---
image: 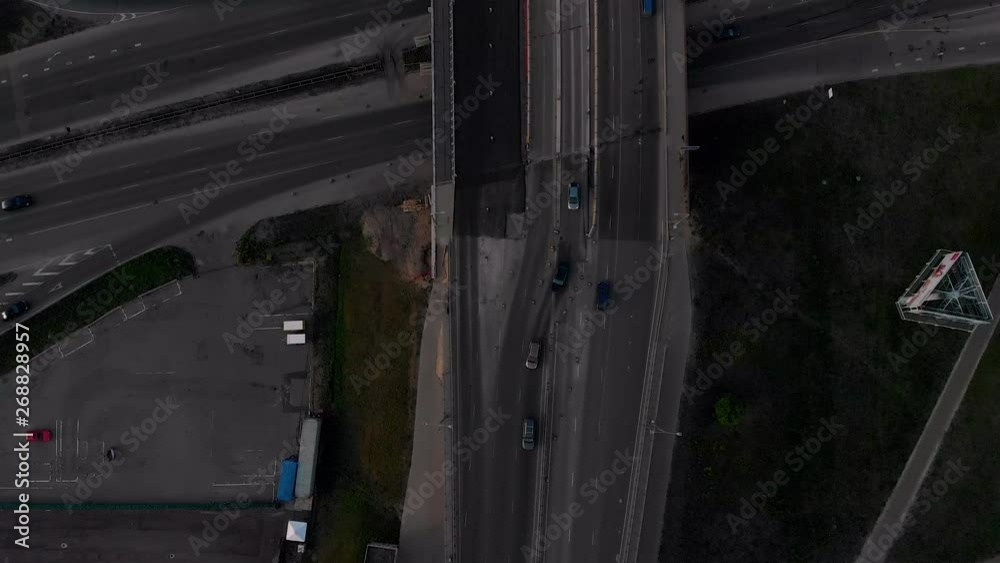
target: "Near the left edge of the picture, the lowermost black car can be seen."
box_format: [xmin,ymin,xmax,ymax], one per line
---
[1,300,30,319]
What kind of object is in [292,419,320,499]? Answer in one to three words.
trailer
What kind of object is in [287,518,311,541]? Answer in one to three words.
tent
